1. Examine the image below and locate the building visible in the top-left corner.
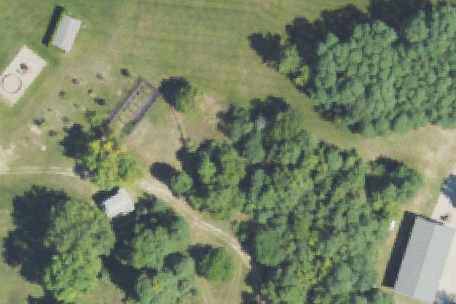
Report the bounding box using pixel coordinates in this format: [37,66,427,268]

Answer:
[52,16,82,52]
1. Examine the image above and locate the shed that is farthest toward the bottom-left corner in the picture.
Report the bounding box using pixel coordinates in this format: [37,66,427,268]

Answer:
[103,189,134,217]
